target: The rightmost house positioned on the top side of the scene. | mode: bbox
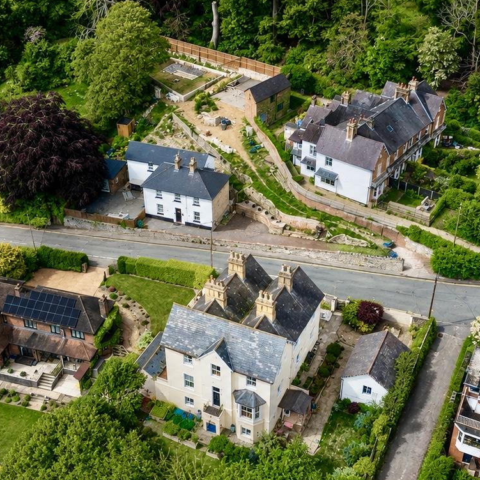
[294,70,451,214]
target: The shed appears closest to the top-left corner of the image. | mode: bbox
[115,114,135,137]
